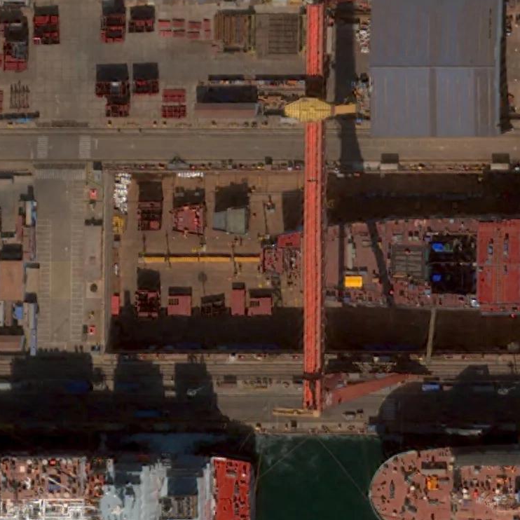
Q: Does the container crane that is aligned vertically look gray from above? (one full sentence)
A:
No, the color of the container crane that is aligned vertically is red.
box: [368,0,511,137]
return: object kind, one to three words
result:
shed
